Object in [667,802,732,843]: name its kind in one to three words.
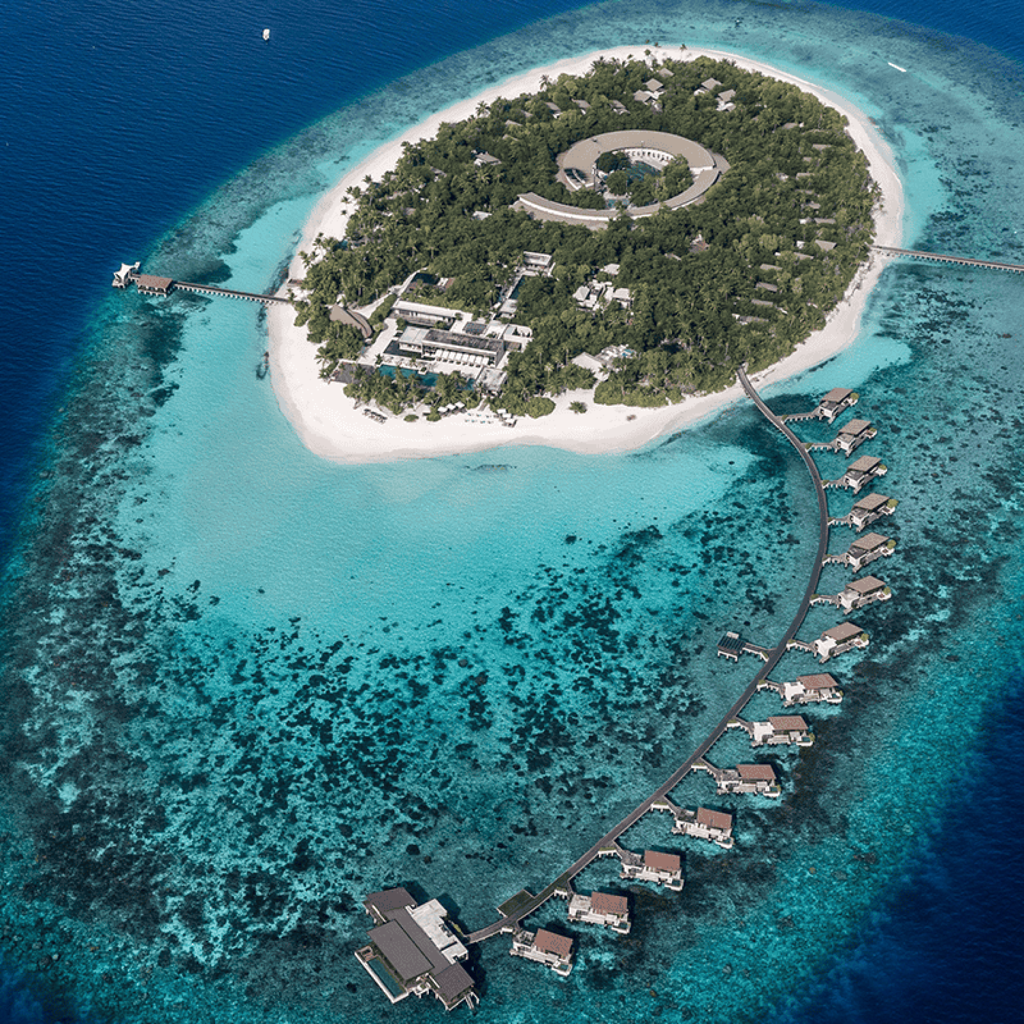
house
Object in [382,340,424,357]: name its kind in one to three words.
swimming pool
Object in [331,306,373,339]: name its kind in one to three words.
building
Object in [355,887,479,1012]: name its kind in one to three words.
building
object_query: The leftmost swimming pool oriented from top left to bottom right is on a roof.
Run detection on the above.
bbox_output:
[367,958,406,998]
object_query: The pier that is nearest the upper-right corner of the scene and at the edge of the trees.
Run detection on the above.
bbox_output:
[870,244,1024,276]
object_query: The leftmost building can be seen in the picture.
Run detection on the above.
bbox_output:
[137,275,174,299]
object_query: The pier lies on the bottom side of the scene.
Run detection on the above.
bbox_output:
[464,365,830,946]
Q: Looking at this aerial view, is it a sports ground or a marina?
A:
marina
